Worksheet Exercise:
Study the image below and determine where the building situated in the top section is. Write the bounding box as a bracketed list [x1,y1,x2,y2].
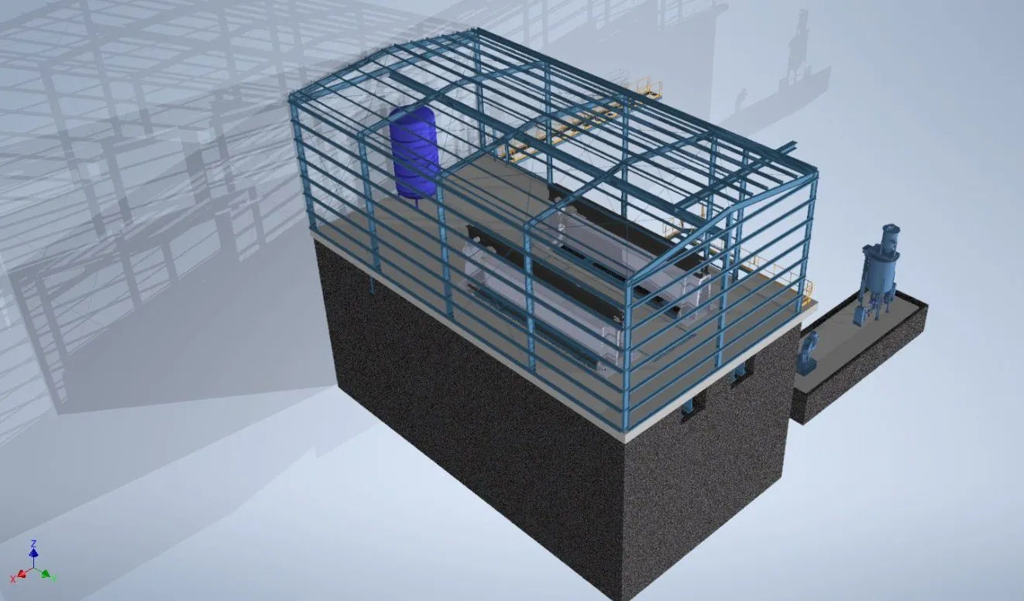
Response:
[290,24,819,436]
